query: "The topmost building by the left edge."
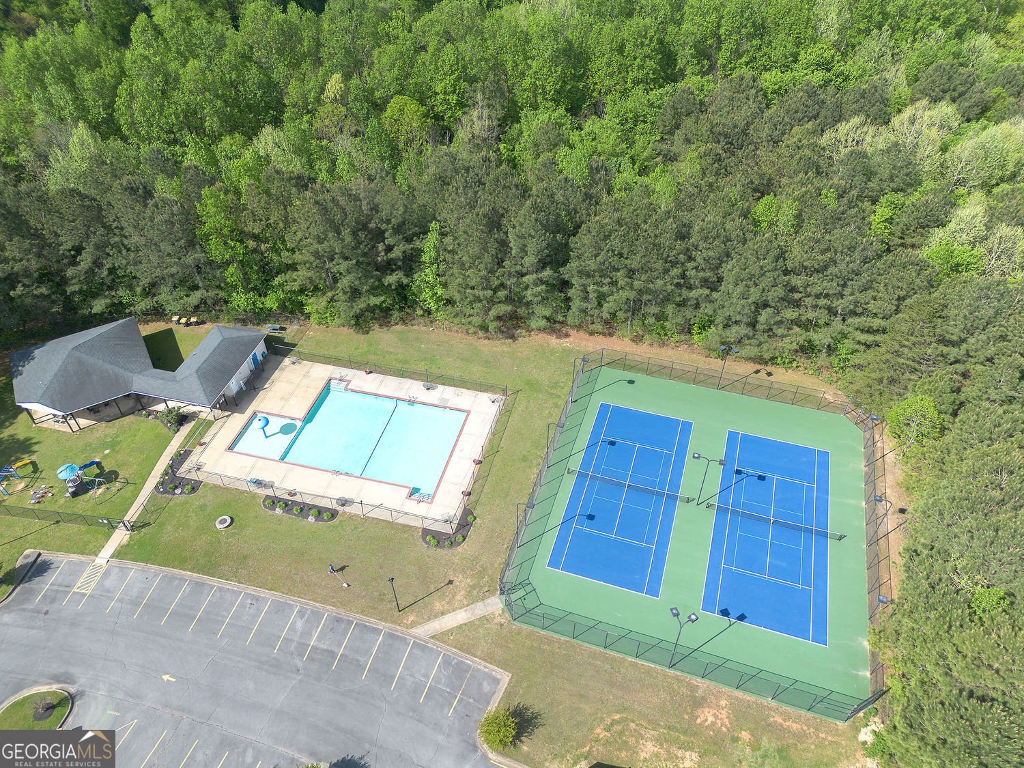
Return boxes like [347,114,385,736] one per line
[12,316,269,433]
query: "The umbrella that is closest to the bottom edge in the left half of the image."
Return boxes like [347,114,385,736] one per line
[252,416,270,440]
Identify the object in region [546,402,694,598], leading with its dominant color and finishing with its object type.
blue tennis court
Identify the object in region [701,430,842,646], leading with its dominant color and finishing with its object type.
blue tennis court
